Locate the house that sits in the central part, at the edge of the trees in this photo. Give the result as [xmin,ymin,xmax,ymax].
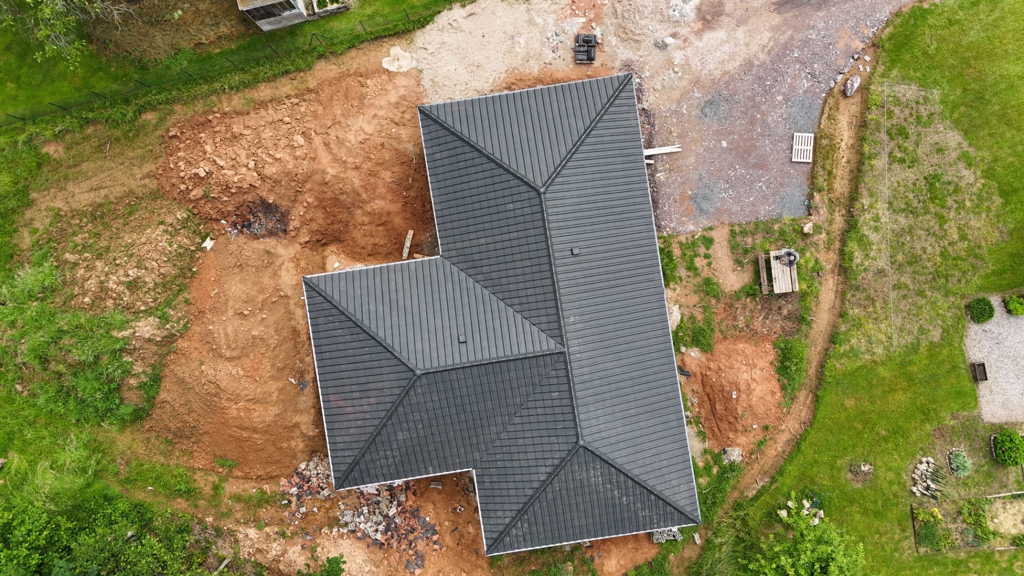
[301,70,703,559]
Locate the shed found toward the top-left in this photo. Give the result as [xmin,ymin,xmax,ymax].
[236,0,308,31]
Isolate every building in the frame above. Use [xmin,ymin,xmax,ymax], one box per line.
[301,70,703,559]
[236,0,308,31]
